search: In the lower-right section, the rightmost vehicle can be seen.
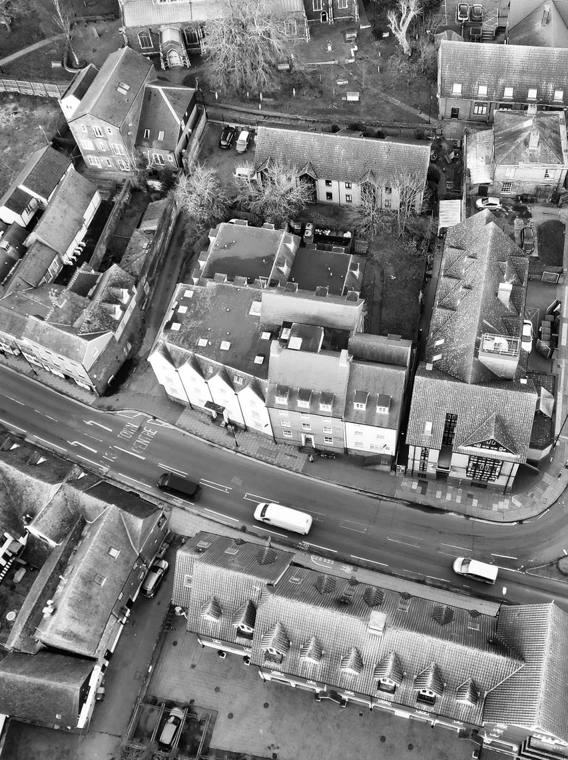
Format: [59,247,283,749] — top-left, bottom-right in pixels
[451,555,502,584]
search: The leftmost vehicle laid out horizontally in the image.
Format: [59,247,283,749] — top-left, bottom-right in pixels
[156,475,203,503]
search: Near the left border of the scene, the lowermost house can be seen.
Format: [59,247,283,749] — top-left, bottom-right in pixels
[0,640,113,734]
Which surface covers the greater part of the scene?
buildings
